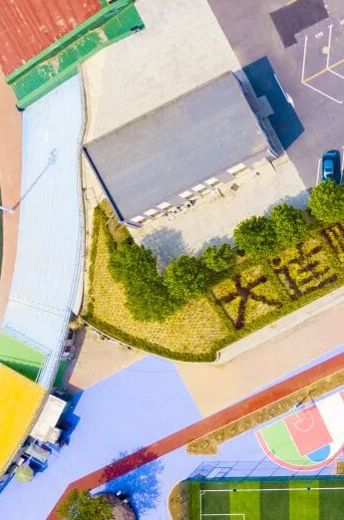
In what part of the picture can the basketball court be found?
bottom right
